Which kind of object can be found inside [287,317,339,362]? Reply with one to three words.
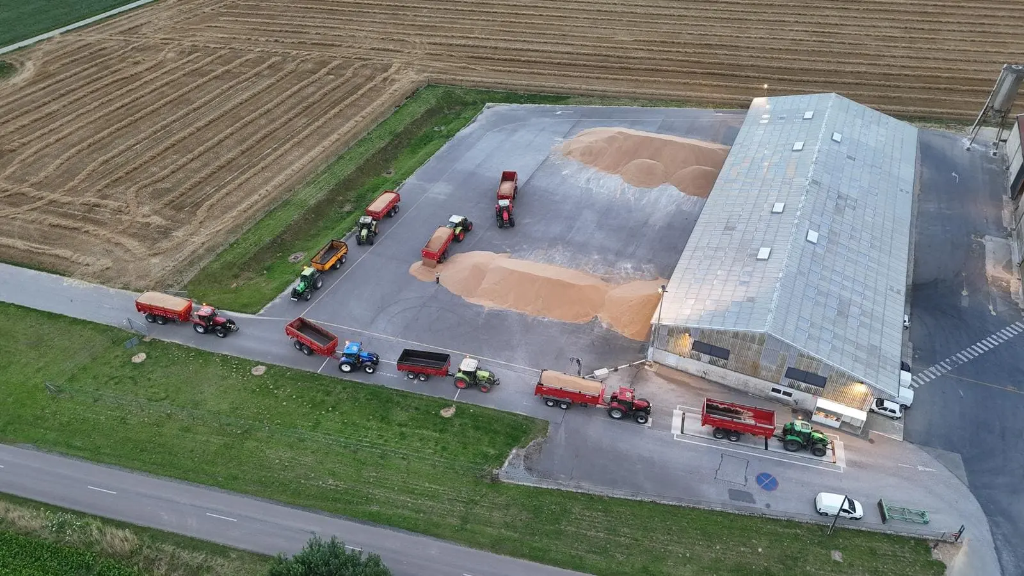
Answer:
trailer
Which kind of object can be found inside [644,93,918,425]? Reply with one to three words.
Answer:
building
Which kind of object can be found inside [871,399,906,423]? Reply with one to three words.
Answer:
car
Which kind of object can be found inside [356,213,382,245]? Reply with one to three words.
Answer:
work vehicle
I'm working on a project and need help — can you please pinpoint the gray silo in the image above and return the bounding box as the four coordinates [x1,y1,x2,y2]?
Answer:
[968,60,1024,152]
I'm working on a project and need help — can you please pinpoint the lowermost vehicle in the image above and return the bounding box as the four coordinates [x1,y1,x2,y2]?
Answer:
[815,495,863,523]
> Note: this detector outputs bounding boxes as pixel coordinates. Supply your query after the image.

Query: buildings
[1003,110,1024,367]
[644,93,918,425]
